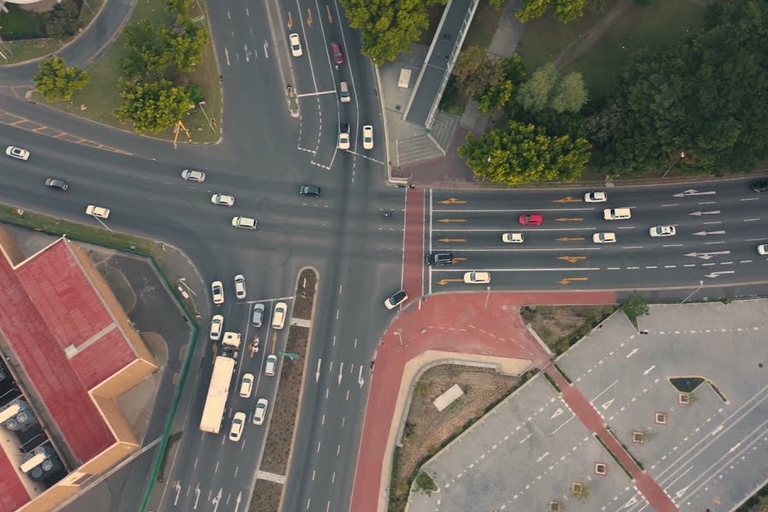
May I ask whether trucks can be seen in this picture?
Yes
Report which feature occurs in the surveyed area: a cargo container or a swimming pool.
cargo container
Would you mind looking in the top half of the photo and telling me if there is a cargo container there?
No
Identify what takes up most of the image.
paved ground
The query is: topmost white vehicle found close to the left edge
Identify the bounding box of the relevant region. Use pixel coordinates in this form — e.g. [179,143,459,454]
[5,146,32,162]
